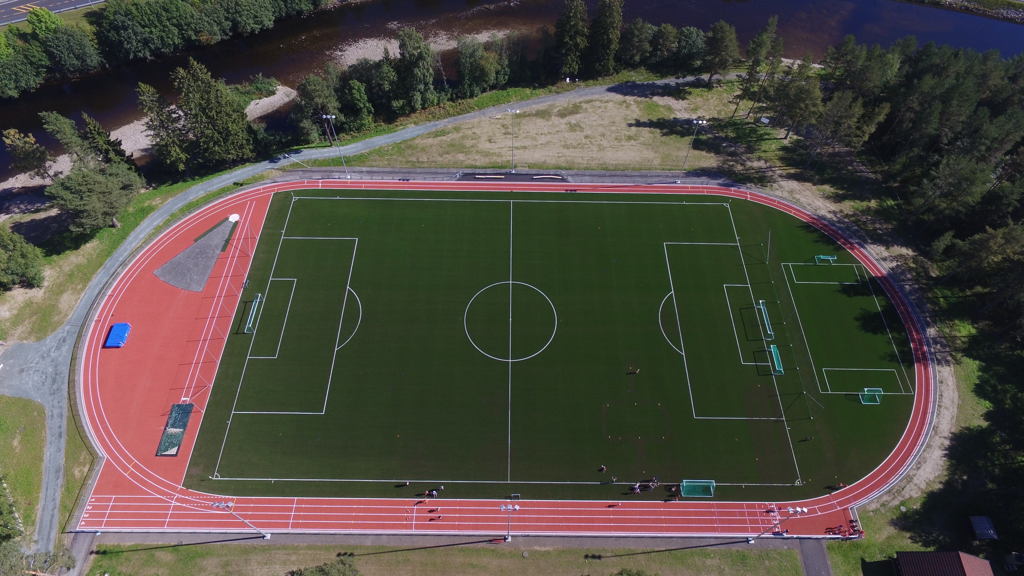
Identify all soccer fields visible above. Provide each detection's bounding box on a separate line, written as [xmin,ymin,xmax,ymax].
[181,188,919,502]
[782,263,914,393]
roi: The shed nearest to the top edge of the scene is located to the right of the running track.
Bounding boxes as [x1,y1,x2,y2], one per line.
[963,516,998,542]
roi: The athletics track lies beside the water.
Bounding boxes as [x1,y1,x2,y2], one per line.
[77,179,935,537]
